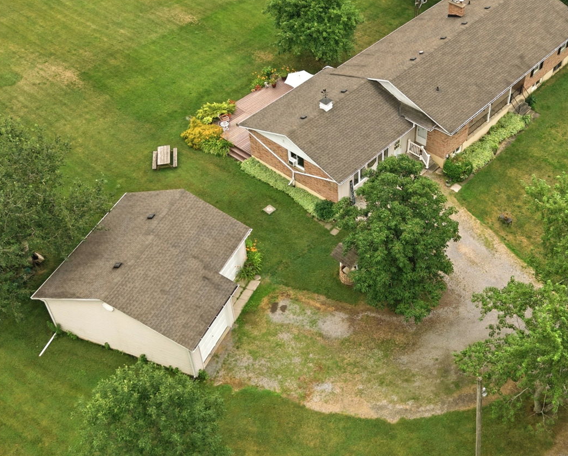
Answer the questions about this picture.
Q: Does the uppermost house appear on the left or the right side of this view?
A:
right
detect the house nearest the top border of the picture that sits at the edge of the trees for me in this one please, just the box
[237,0,568,203]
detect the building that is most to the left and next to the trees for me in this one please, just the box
[31,191,254,378]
